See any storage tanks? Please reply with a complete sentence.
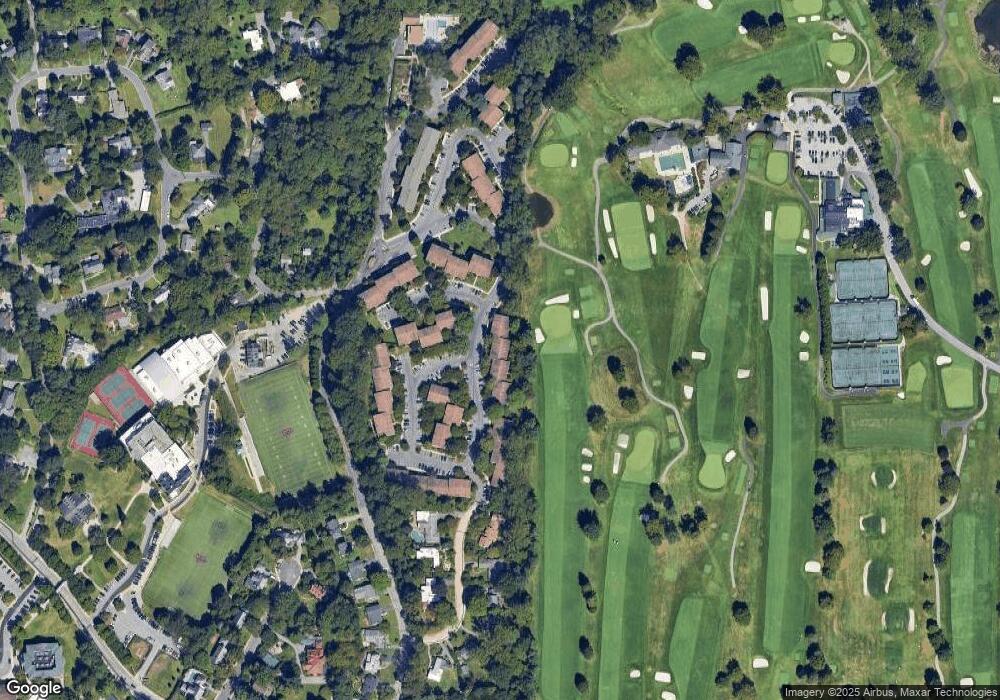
No, the scene contains no storage tank.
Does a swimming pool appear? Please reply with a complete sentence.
Yes, a swimming pool appears in the view.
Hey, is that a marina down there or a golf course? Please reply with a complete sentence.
What you see here is a golf course.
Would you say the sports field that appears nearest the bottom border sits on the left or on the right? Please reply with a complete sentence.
The sports field that appears nearest the bottom border appears in the left half of the scene.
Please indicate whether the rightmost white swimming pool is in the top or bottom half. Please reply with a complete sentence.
You can find the rightmost white swimming pool in the top half.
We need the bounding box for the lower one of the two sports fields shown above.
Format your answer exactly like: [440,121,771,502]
[146,492,252,622]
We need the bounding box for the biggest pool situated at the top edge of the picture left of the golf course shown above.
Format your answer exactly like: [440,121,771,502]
[423,15,458,42]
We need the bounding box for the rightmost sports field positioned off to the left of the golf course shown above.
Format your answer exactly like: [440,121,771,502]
[240,363,335,492]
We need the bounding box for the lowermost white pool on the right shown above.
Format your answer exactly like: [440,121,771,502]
[655,146,694,176]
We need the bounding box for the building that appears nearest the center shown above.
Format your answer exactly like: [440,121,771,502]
[489,313,511,404]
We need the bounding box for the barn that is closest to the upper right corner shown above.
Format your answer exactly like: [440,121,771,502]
[833,92,862,112]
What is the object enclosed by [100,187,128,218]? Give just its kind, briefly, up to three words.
house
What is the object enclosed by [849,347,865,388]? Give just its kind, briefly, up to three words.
tennis court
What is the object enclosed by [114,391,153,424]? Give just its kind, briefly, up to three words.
tennis court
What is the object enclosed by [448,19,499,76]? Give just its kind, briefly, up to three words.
building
